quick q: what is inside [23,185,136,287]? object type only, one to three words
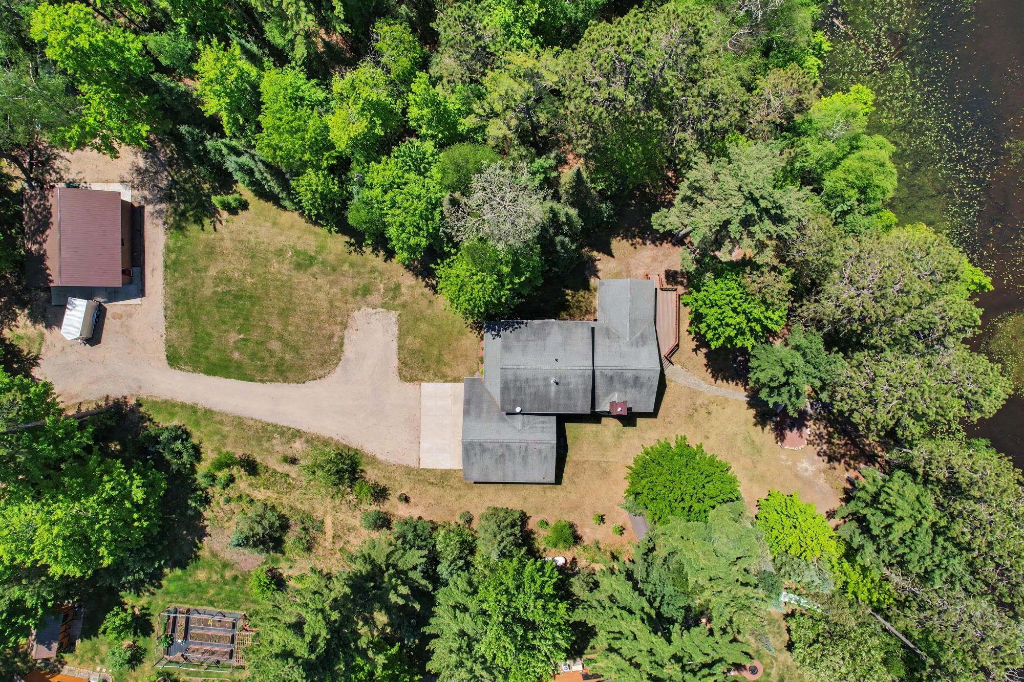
shed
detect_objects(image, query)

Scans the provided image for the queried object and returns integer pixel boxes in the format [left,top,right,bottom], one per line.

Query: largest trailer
[60,297,104,351]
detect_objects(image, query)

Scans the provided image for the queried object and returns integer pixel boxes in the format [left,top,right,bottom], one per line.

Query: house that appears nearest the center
[461,279,660,483]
